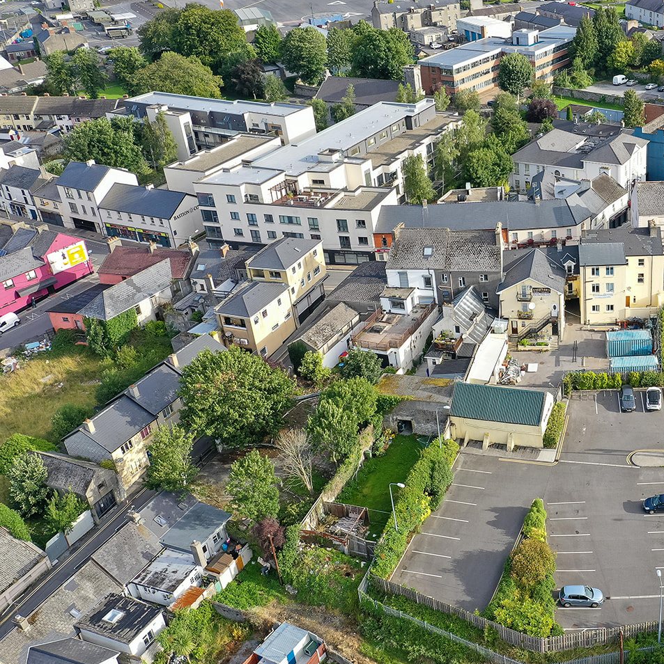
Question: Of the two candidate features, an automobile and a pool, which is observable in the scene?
automobile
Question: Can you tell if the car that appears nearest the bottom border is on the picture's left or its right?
right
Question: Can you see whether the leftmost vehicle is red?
No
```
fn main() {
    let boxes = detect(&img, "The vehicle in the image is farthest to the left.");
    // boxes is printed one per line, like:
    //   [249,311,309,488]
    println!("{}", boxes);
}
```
[0,313,26,334]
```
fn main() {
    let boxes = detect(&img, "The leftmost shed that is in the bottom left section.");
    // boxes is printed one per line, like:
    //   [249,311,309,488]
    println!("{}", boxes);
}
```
[0,530,57,620]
